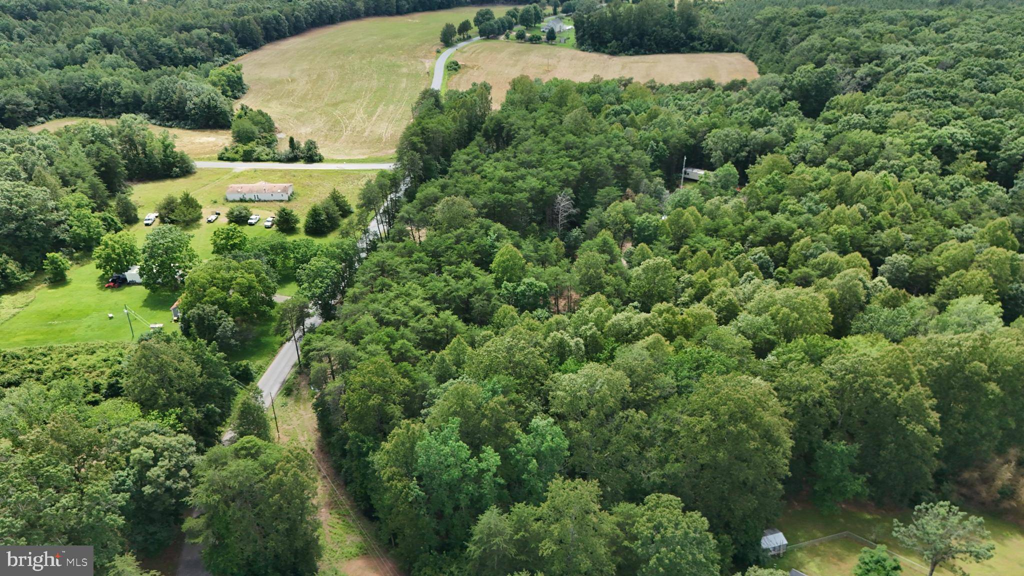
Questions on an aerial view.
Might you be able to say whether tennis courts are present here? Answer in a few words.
No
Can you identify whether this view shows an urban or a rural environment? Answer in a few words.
rural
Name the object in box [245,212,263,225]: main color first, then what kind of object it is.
white vehicle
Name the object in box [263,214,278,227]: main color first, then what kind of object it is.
white vehicle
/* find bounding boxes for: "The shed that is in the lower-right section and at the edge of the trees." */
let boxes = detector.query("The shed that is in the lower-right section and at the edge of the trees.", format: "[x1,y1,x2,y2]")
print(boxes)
[757,526,792,554]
